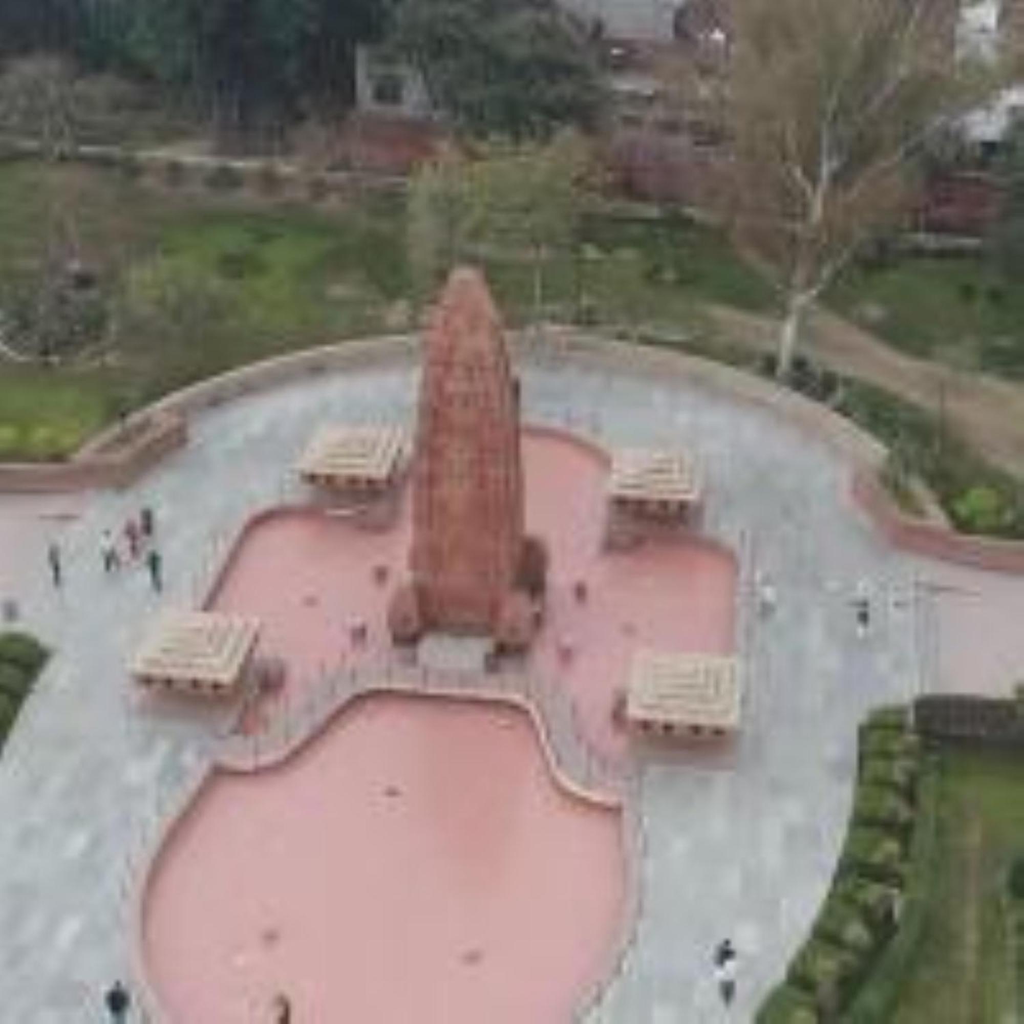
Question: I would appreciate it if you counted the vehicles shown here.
0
